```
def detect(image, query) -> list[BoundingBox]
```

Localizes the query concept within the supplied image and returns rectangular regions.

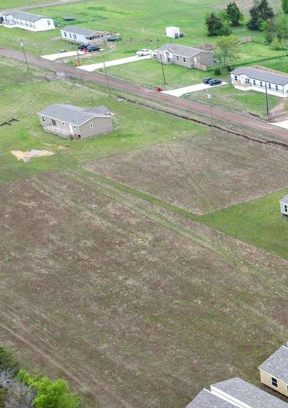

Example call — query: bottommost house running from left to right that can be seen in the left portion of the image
[32,104,112,140]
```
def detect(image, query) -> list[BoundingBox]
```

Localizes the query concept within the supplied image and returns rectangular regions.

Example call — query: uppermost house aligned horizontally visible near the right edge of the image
[228,66,288,99]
